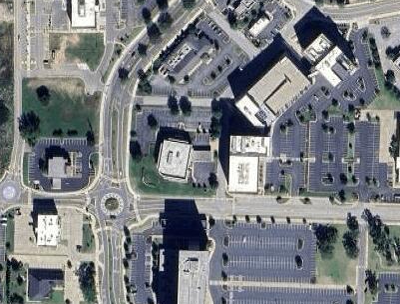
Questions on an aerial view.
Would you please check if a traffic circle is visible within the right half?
No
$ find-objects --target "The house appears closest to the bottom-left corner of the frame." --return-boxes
[27,269,63,300]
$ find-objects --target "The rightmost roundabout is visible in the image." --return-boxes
[93,184,132,224]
